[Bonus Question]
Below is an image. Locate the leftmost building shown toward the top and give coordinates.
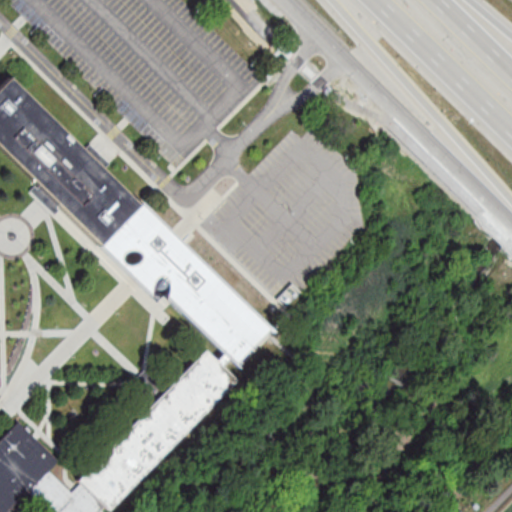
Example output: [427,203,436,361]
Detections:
[0,78,143,244]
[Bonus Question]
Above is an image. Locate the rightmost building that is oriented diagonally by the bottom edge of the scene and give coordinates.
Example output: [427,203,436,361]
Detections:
[80,350,230,512]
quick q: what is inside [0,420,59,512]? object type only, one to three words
building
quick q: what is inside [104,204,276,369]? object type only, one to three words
building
